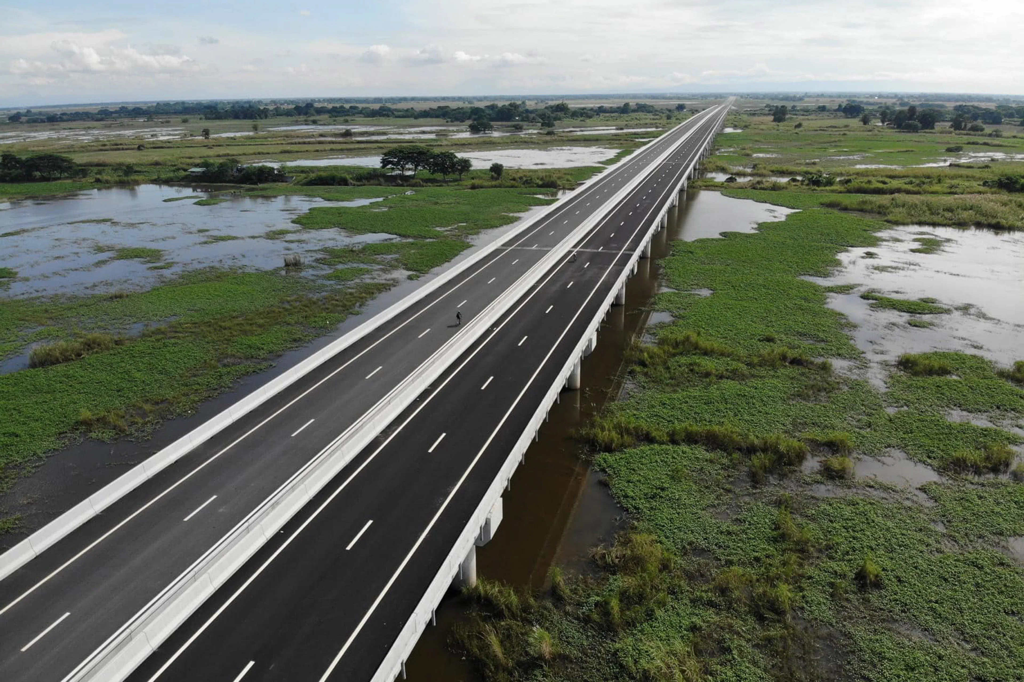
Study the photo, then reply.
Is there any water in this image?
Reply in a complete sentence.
Yes, the picture does contain water.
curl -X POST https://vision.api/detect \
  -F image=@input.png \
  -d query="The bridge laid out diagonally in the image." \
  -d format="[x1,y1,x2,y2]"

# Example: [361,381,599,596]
[0,111,725,682]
